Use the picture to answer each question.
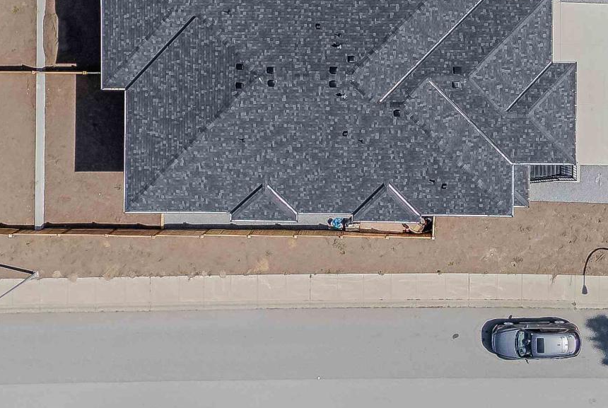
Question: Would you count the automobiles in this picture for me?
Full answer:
The picture shows just 1 automobile.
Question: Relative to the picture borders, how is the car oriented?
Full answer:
I'd say the car is aligned horizontally in the picture.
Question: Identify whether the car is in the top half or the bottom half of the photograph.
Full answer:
The car sits in the bottom half of the picture.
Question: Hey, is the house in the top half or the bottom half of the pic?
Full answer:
The house sits in the top half of the picture.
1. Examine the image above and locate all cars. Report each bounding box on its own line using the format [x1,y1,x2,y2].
[490,320,580,366]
